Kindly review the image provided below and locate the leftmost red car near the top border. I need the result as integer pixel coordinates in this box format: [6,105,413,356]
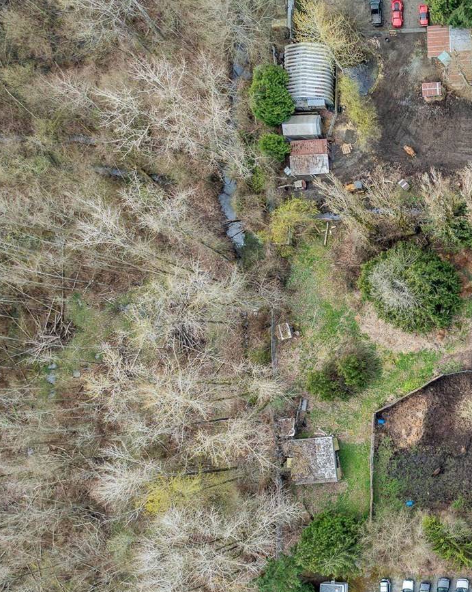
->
[391,0,405,29]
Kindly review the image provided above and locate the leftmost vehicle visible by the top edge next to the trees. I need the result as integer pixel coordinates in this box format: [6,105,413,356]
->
[369,0,384,29]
